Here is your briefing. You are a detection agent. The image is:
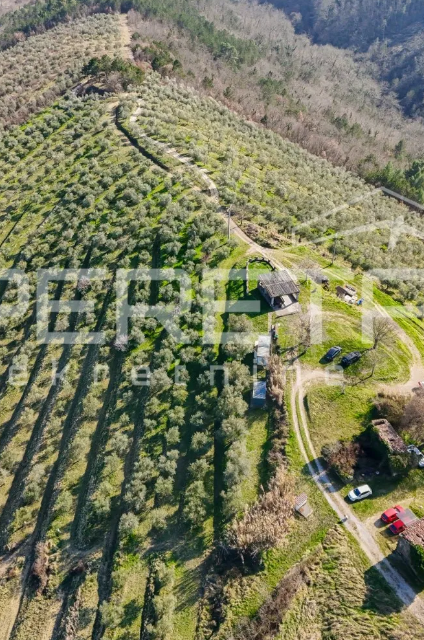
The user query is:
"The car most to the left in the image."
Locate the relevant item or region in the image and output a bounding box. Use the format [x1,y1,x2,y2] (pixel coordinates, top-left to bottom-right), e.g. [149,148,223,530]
[324,344,344,361]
